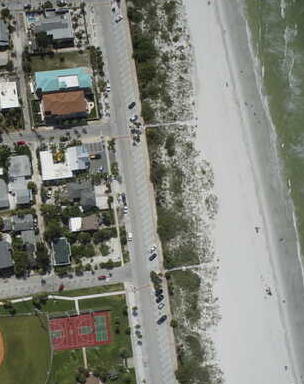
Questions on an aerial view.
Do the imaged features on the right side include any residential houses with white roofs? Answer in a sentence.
No, the scene shows no residential house with a white roof on the right side.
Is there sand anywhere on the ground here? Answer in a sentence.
Yes, there's sand in this view.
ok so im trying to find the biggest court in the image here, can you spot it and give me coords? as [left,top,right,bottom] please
[50,311,97,349]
